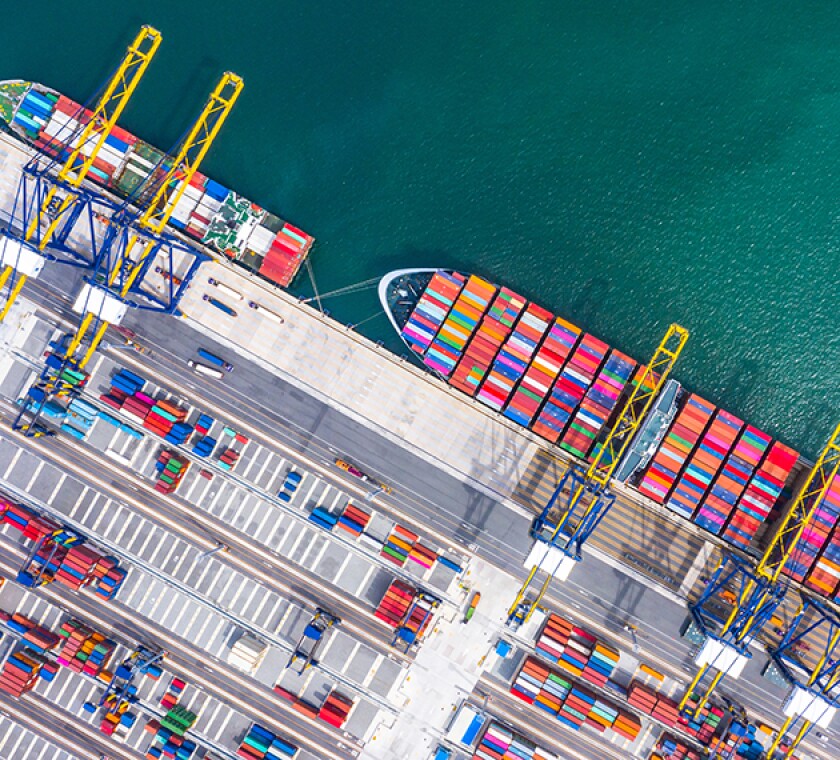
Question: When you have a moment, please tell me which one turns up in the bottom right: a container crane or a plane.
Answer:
container crane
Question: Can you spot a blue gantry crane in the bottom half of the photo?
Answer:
Yes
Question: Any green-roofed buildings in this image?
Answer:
No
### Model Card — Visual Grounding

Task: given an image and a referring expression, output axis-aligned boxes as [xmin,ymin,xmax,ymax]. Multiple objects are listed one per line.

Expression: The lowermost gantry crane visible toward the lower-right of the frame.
[701,701,754,760]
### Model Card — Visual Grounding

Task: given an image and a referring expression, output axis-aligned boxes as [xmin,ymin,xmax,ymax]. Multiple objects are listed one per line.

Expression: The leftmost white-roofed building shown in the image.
[447,702,486,749]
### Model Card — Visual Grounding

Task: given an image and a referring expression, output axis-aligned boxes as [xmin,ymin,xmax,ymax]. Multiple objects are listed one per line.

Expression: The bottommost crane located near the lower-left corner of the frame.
[94,645,161,715]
